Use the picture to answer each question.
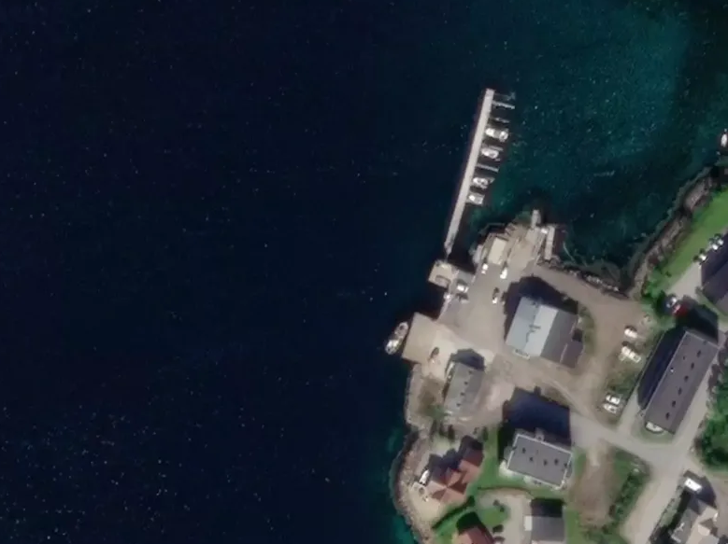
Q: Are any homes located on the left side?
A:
No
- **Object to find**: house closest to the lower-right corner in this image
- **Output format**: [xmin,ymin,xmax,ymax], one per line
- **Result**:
[666,500,724,544]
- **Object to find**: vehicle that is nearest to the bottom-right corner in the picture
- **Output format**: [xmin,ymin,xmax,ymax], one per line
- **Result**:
[683,478,703,493]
